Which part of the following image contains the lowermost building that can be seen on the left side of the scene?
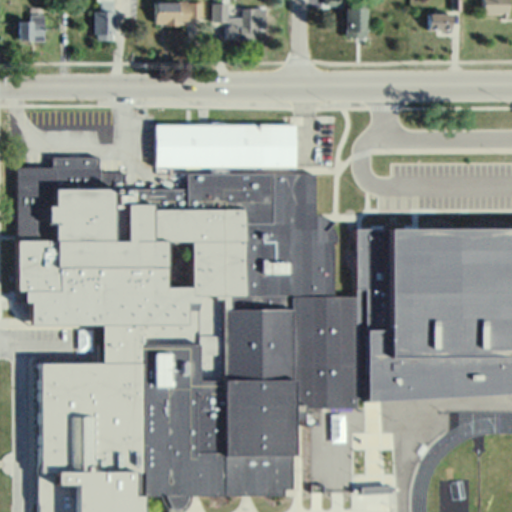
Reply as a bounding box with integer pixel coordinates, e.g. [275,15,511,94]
[16,157,356,512]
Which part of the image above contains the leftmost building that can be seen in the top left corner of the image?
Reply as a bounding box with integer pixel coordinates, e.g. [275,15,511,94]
[18,10,48,42]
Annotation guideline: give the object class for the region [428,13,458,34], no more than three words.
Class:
house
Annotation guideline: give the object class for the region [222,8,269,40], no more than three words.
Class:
house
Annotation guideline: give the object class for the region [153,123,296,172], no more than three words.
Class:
building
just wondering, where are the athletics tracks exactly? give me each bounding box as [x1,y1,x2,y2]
[410,412,512,512]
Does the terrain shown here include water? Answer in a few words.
No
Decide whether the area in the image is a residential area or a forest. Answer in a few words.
residential area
